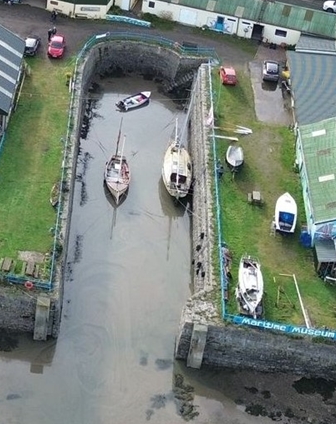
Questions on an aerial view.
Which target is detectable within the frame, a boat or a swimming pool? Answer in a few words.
boat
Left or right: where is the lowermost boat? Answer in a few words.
right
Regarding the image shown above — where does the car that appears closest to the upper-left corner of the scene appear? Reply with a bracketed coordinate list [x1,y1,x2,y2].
[27,34,42,58]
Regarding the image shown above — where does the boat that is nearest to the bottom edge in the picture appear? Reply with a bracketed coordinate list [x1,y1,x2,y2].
[237,256,267,317]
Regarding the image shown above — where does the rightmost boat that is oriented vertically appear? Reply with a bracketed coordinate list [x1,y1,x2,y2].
[272,185,299,241]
